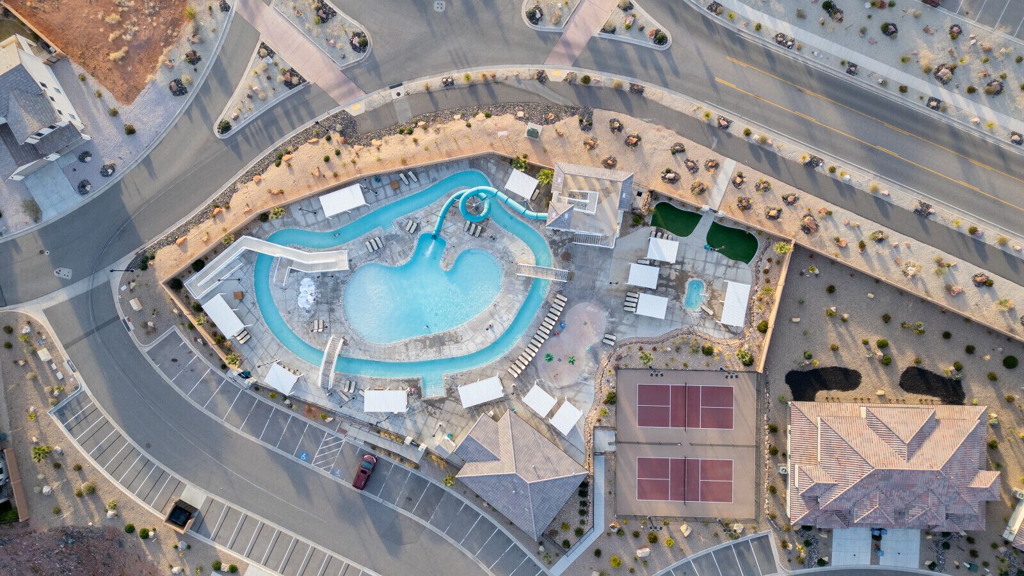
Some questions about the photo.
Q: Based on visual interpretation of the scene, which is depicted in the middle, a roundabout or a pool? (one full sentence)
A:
The one visible in the middle is a pool.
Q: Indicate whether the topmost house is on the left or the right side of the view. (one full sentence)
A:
You can find the topmost house on the left side of the picture.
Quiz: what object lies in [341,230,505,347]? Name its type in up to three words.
swimming pool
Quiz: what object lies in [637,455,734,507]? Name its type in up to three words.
sports court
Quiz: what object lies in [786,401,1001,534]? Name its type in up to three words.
house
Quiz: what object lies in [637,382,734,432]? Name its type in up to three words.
sports court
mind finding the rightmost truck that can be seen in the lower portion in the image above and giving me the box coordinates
[348,452,378,495]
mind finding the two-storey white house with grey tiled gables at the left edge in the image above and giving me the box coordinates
[0,32,90,183]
